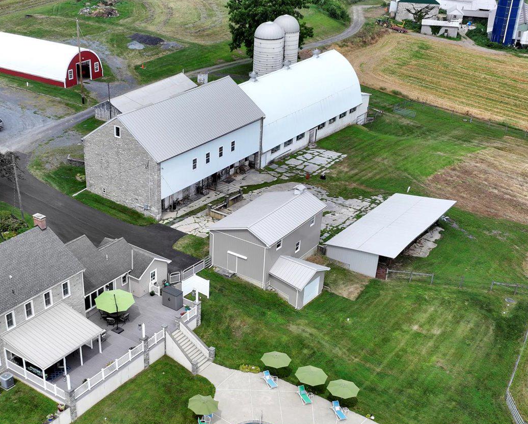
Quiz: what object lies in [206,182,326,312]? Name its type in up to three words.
barn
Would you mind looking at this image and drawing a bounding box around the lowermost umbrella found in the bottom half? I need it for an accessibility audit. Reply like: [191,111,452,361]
[188,394,222,424]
